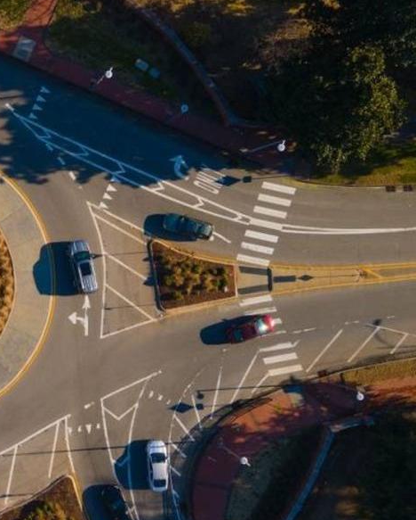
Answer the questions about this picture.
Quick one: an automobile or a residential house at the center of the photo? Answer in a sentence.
What appears at the center of the photo is an automobile.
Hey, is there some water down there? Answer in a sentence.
No, no water is visible.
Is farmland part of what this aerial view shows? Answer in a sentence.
No, there's no farmland in this view.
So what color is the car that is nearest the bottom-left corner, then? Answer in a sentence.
The car that is nearest the bottom-left corner looks black in the image.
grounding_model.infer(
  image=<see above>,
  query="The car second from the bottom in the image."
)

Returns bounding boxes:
[143,439,170,492]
